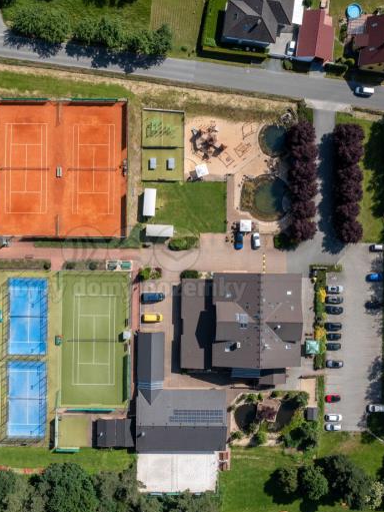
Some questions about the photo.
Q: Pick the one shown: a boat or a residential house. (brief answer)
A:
residential house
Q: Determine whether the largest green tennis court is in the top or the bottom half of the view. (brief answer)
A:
bottom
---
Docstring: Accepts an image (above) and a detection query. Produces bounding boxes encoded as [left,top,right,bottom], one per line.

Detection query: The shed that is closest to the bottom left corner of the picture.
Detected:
[96,416,134,448]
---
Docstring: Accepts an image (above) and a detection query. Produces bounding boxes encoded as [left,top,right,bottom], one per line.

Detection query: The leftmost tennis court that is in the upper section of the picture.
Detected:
[0,101,59,236]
